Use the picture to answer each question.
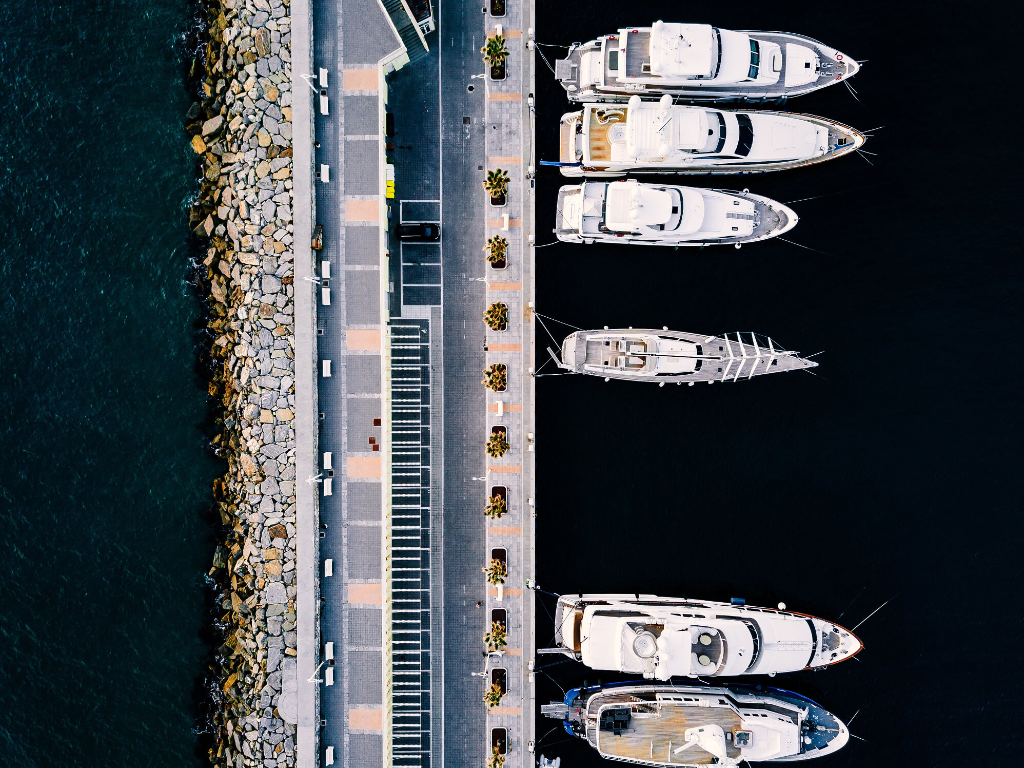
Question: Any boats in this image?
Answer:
Yes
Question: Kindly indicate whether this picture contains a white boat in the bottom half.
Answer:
Yes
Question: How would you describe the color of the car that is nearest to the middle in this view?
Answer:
black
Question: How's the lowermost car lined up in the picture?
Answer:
from side to side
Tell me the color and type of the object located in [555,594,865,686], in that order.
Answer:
white boat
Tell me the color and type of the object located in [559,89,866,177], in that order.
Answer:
white boat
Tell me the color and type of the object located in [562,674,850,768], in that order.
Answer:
white vessel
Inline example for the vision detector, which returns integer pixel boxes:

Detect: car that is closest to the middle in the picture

[398,222,440,242]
